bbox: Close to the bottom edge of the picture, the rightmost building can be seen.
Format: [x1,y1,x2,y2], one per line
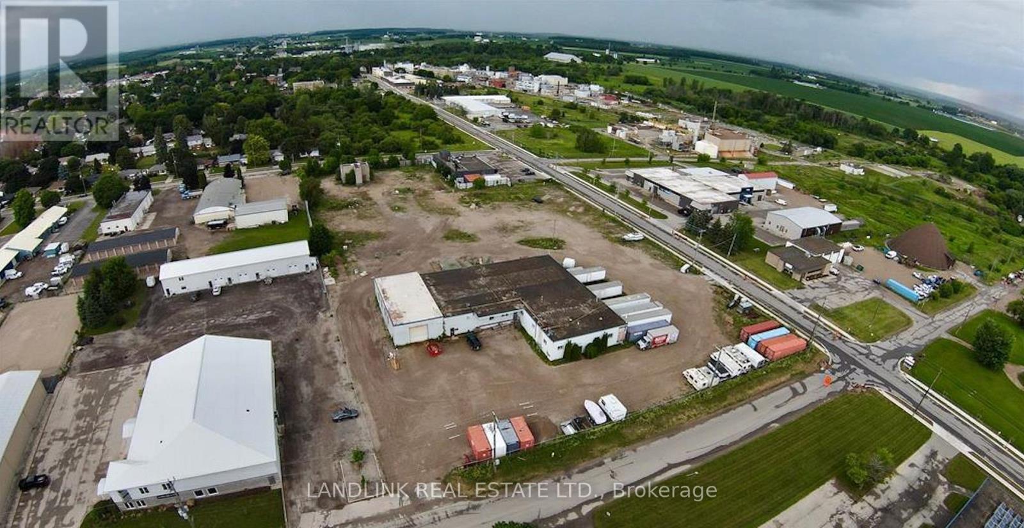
[97,334,285,515]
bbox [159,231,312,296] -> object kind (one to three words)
building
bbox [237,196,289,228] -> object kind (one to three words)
barn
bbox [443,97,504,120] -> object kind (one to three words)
building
